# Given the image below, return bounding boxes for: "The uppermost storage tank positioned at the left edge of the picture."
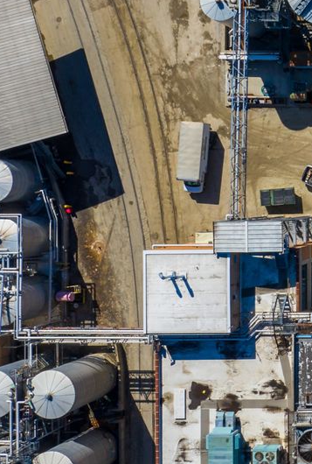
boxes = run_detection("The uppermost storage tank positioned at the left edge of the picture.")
[0,158,48,201]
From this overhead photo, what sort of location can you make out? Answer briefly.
industrial area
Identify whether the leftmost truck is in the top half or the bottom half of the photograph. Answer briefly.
top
